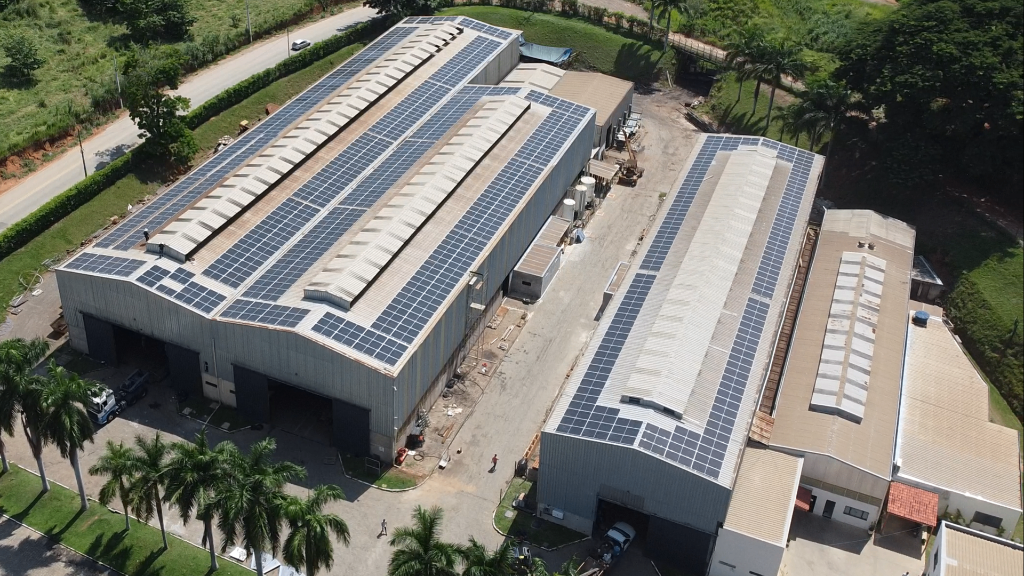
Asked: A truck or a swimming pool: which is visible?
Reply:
truck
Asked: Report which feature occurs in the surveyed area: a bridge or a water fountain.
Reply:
bridge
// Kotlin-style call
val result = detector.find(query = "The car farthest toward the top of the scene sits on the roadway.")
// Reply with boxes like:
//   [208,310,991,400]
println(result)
[288,35,310,48]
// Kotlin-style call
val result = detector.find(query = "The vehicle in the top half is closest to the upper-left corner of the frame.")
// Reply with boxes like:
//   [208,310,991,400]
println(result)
[232,119,250,134]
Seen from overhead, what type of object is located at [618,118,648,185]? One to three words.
crane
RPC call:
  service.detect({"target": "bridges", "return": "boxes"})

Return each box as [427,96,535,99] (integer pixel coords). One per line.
[670,33,740,79]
